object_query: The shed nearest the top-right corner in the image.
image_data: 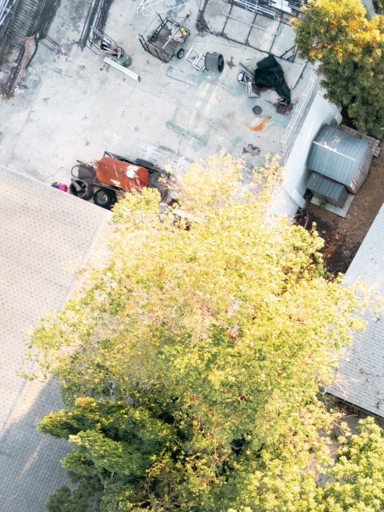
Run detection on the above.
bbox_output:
[301,106,375,190]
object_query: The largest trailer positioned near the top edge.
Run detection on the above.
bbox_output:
[128,3,192,59]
